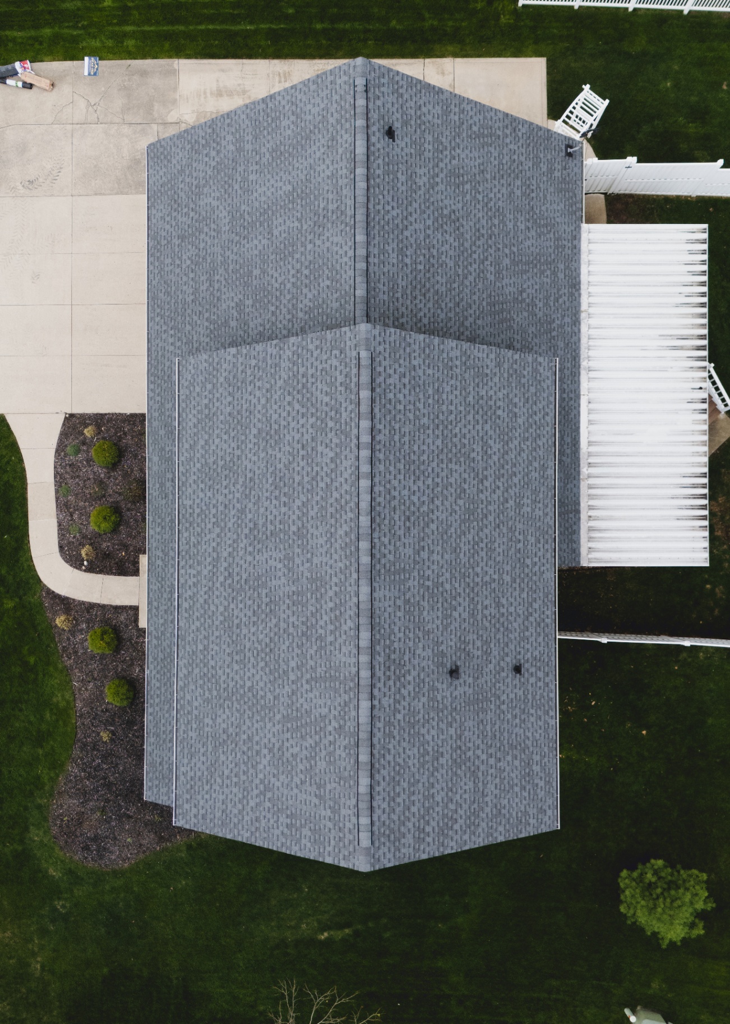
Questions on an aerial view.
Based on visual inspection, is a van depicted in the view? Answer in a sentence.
No, the photo shows no van.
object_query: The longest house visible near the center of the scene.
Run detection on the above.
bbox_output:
[142,55,586,873]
